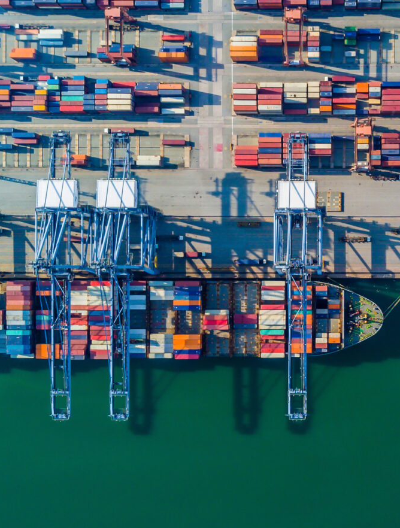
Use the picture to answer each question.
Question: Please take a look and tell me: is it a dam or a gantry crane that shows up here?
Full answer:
It is a gantry crane that can be seen here.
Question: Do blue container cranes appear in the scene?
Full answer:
Yes, looking at the shot, I can spot a blue container crane.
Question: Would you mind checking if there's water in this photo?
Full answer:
Yes, water can be seen from above here.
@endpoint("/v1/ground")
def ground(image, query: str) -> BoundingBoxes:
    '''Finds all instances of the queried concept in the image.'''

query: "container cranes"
[282,0,307,64]
[351,112,376,170]
[94,130,172,421]
[28,130,111,421]
[272,130,330,421]
[103,0,137,64]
